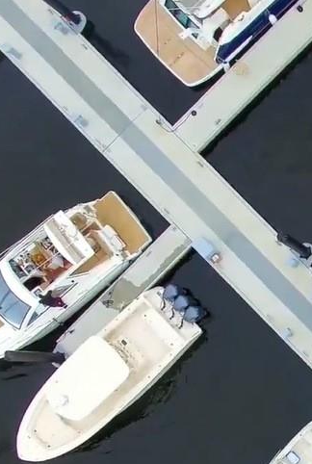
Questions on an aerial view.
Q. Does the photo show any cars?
No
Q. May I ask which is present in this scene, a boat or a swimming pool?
boat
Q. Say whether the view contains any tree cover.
No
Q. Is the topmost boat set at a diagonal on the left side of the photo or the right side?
left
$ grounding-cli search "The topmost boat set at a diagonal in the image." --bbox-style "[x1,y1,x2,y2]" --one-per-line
[0,191,151,357]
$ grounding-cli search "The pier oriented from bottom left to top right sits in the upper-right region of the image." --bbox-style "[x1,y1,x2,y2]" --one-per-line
[172,0,312,151]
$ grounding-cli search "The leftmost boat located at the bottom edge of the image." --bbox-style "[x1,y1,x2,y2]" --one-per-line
[14,283,210,462]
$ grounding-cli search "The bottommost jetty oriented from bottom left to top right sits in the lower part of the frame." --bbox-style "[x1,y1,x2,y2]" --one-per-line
[53,222,195,361]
